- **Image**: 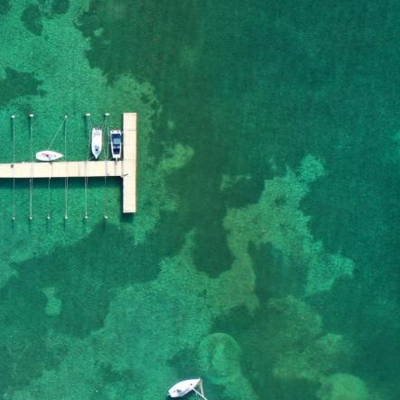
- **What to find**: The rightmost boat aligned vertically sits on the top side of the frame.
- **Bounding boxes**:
[109,128,122,159]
